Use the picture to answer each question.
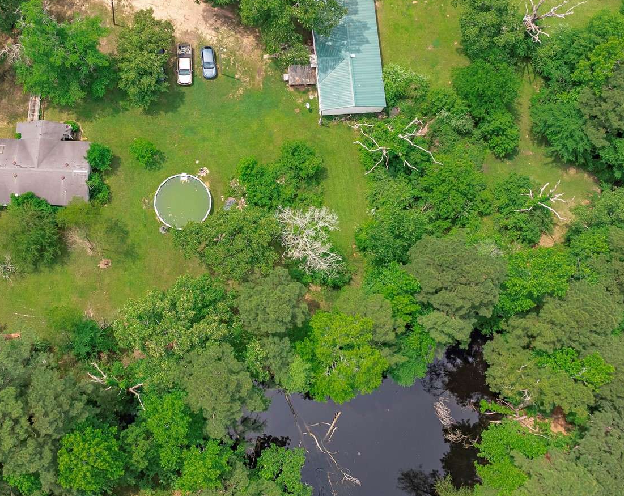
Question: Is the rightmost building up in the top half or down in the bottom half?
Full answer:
The rightmost building is in the top half of the image.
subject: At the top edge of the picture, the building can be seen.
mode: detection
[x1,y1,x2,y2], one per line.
[312,0,387,119]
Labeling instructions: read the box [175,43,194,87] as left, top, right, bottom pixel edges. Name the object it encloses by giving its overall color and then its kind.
white vehicle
